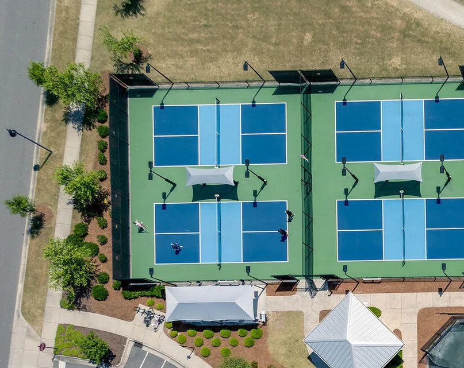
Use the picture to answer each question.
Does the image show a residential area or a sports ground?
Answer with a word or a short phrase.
sports ground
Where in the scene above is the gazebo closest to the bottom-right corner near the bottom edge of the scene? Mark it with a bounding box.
[303,292,406,368]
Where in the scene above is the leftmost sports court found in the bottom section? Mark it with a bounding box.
[129,183,313,282]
